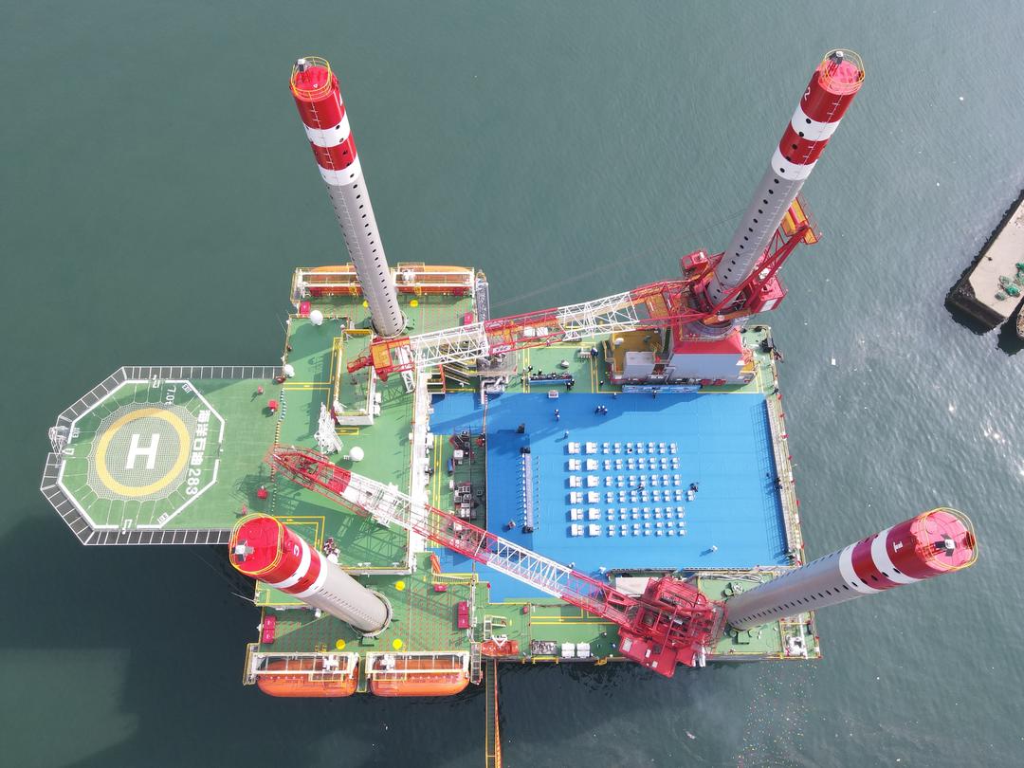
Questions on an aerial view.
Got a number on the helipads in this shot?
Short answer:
1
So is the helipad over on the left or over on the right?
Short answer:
left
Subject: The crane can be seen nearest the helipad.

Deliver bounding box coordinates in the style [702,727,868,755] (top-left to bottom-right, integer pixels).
[263,439,729,684]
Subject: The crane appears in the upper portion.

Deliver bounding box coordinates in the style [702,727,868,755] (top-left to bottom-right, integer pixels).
[345,187,837,387]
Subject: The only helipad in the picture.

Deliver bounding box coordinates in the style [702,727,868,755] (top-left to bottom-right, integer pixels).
[40,365,282,546]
